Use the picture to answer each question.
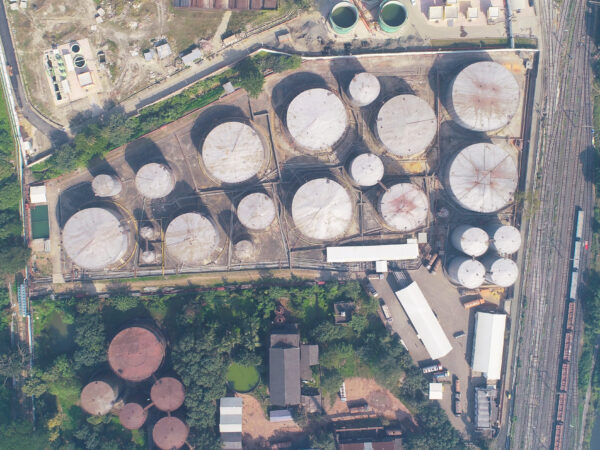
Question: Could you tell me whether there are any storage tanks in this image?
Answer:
Yes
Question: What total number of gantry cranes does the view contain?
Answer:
none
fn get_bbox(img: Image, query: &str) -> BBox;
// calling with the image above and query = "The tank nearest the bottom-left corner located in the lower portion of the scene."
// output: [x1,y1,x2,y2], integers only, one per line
[80,373,124,415]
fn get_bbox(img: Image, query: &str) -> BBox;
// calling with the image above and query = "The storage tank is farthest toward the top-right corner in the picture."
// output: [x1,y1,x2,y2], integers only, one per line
[442,61,520,135]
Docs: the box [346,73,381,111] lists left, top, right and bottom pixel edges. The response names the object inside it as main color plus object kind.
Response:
white storage tank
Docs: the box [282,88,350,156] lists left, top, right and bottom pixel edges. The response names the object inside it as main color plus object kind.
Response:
white storage tank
